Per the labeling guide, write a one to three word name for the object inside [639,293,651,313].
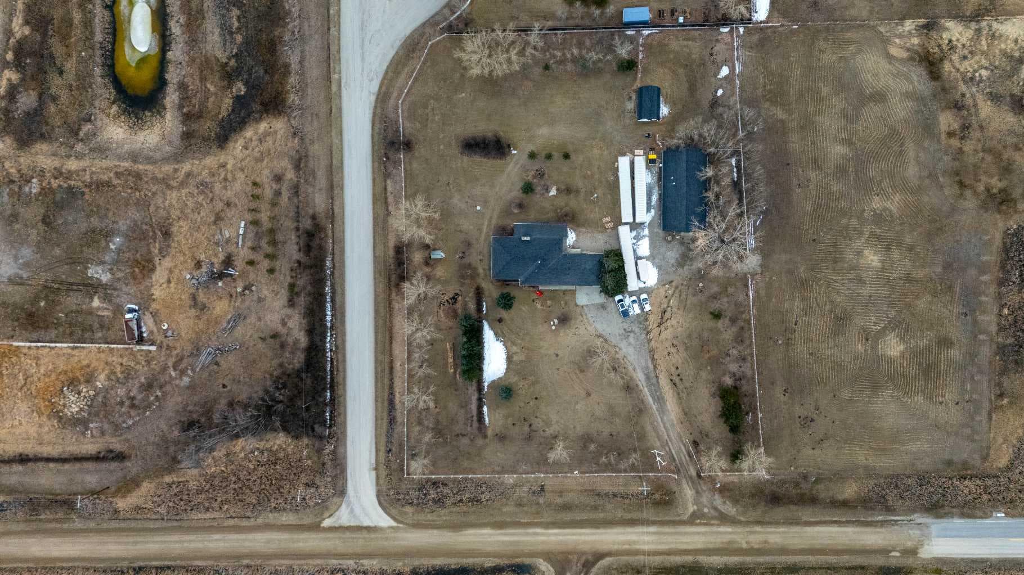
vehicle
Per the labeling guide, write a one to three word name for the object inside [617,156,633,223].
trailer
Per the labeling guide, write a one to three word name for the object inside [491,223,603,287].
house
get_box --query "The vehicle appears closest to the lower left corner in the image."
[125,305,142,343]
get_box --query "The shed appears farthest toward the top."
[622,5,651,28]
